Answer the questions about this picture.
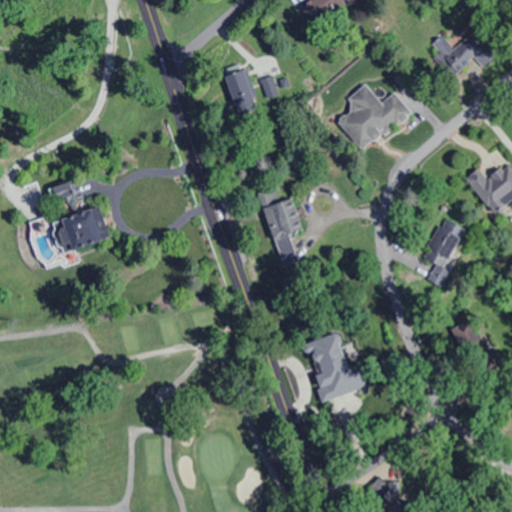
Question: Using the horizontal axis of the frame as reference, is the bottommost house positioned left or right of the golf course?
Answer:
right of it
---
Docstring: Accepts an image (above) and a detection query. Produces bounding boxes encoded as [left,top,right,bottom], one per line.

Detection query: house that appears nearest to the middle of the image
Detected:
[258,192,302,238]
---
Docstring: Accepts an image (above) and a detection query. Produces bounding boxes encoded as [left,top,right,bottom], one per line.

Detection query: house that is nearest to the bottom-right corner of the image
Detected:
[370,477,404,512]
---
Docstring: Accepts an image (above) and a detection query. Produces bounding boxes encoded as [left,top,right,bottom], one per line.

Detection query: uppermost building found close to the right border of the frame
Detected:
[432,36,491,75]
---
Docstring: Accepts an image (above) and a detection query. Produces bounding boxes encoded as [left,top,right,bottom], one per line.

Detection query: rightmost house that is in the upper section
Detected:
[464,165,512,212]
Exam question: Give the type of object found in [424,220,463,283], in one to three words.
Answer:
house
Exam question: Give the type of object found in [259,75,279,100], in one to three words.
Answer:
building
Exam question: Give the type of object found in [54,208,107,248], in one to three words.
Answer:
house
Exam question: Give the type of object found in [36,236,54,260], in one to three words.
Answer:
swimming pool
